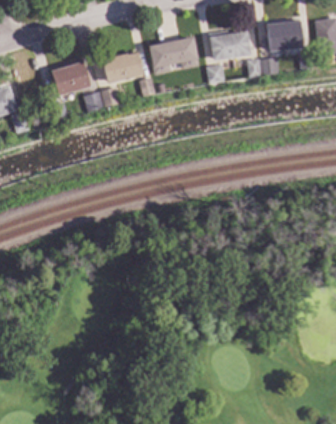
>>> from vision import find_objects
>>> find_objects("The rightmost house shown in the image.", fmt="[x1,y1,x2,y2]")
[314,18,336,54]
